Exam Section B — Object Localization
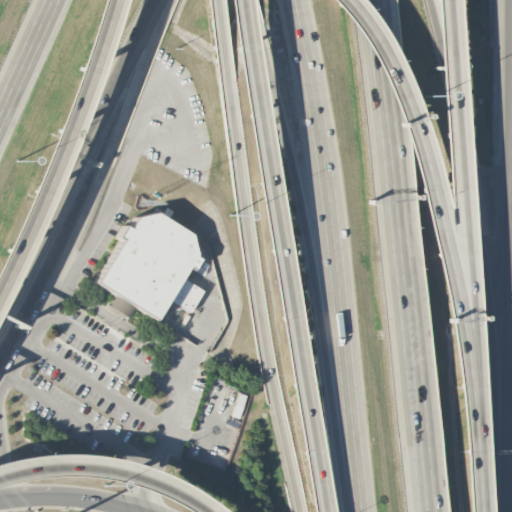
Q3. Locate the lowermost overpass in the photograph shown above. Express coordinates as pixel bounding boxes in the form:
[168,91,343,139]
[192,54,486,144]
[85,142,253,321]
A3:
[0,454,232,512]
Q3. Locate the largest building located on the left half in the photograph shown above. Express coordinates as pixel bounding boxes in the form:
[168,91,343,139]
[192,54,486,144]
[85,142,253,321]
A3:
[98,208,214,322]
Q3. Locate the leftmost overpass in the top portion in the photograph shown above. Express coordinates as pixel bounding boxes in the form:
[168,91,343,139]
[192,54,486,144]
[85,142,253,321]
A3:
[0,0,135,334]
